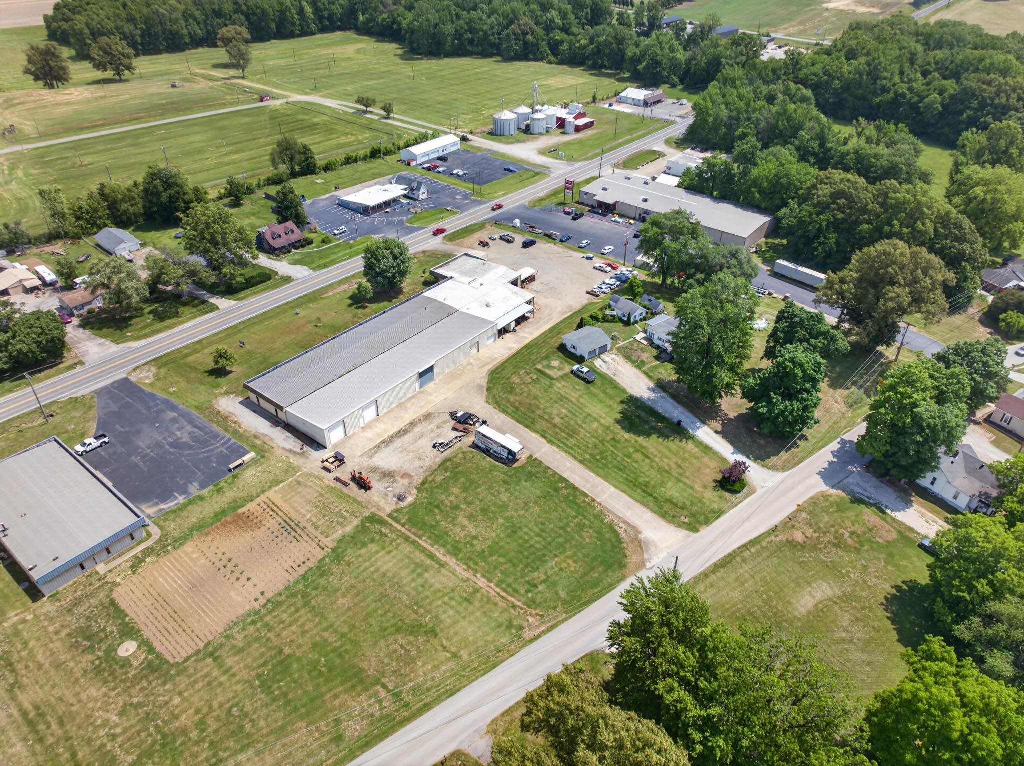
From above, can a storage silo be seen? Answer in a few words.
Yes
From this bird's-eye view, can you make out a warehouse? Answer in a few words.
Yes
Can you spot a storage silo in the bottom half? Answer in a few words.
No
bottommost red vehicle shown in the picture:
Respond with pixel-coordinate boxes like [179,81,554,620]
[355,471,373,489]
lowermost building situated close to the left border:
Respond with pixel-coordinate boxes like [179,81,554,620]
[0,430,146,595]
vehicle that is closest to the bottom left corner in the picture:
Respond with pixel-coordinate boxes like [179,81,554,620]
[77,435,108,454]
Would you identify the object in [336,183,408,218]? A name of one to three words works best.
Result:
building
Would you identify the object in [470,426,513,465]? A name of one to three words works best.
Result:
trailer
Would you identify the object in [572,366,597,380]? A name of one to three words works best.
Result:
vehicle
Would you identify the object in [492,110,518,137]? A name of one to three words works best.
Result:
silo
